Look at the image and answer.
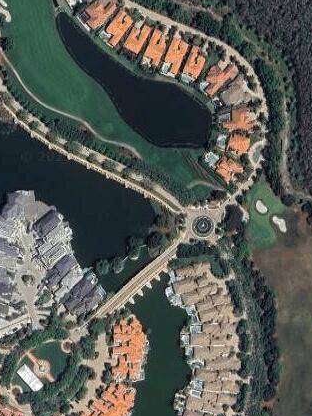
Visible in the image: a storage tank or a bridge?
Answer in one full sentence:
There is a bridge in the scene.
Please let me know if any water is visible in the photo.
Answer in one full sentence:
Yes, water can be seen from above here.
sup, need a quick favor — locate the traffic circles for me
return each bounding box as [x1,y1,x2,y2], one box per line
[185,209,220,243]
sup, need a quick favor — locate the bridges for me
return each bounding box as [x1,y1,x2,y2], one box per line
[89,232,195,324]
